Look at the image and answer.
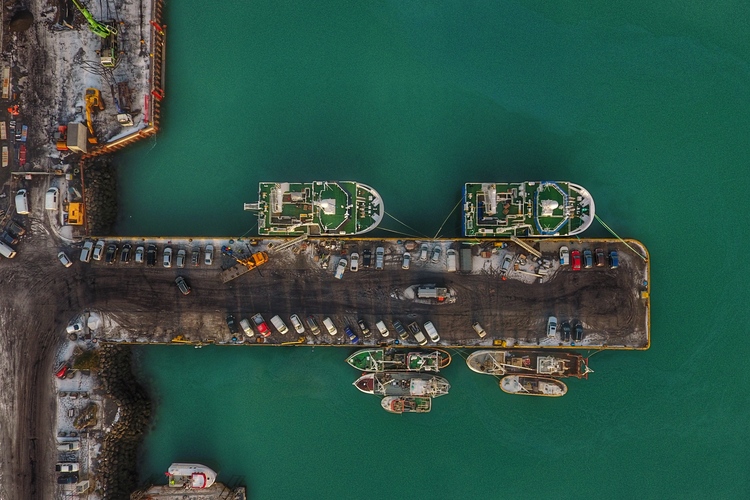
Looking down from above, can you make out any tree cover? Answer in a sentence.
No, tree cover can't be seen anywhere here.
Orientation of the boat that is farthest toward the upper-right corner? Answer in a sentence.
From this overhead view, the boat that is farthest toward the upper-right corner appears to run horizontally.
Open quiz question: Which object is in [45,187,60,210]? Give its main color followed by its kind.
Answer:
white vehicle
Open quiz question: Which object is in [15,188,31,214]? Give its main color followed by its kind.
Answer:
white vehicle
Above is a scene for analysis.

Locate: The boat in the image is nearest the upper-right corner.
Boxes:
[460,183,595,236]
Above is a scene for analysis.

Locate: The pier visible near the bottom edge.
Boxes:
[134,474,248,500]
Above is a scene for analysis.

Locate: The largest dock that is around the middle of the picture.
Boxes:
[92,239,650,348]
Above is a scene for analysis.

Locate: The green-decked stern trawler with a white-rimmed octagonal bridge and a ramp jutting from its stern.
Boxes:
[244,182,384,236]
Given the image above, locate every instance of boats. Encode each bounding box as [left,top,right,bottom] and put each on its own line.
[166,462,218,488]
[465,349,594,379]
[244,182,384,236]
[500,376,567,396]
[381,396,432,417]
[460,183,595,236]
[345,348,452,372]
[353,371,450,398]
